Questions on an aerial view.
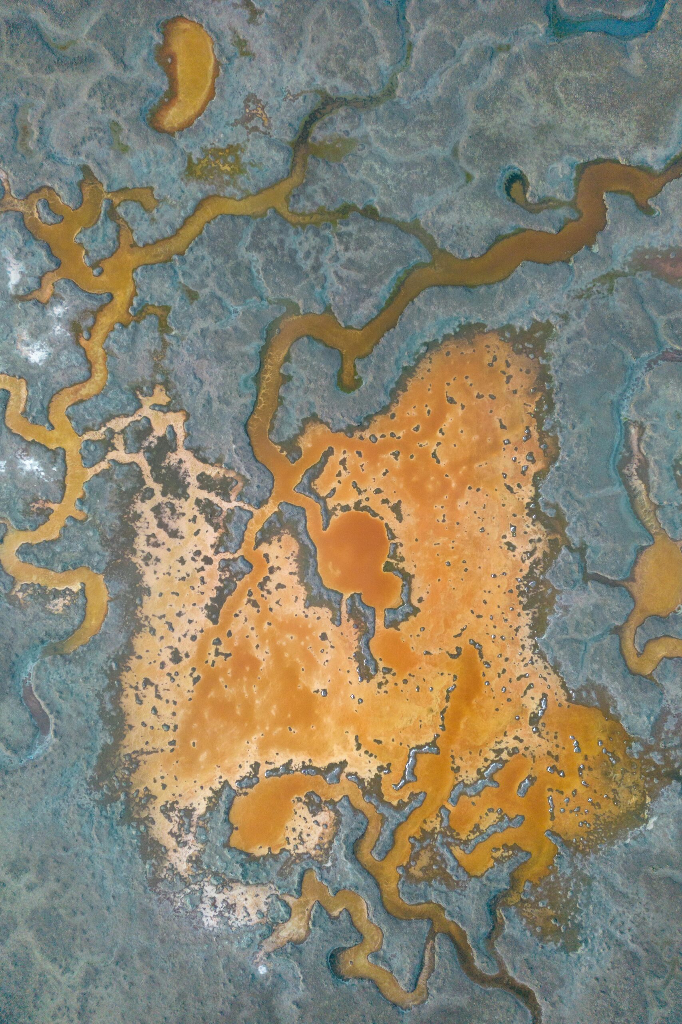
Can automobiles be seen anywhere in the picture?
No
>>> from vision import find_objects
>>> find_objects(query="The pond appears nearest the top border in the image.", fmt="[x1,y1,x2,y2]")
[146,15,221,135]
